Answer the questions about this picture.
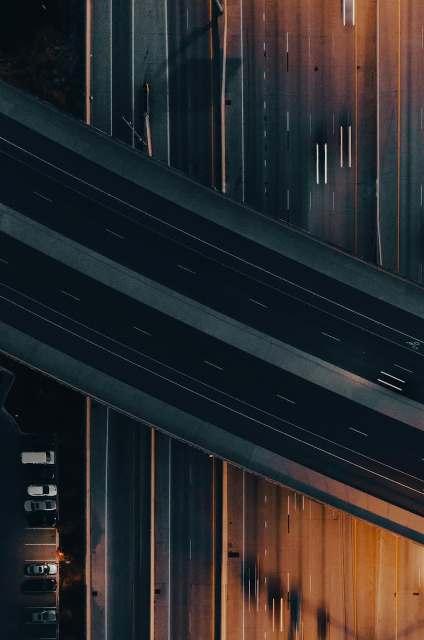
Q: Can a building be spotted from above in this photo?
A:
No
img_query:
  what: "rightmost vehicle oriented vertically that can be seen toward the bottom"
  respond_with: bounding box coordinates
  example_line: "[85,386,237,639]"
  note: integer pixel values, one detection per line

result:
[315,611,329,640]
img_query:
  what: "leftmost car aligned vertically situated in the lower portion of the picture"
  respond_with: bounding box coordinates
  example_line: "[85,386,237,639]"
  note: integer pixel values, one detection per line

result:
[247,565,261,595]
